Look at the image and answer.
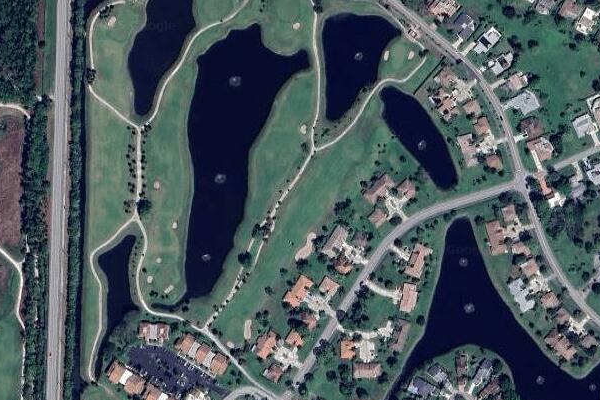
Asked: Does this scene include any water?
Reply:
Yes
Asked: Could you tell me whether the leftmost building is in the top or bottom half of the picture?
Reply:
bottom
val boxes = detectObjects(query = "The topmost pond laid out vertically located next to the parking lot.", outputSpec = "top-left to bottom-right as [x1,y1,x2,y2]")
[92,234,138,379]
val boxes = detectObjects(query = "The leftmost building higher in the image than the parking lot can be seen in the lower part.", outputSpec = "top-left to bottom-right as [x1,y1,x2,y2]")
[136,324,168,346]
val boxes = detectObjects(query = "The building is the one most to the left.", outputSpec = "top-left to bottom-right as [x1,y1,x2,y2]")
[105,363,145,395]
